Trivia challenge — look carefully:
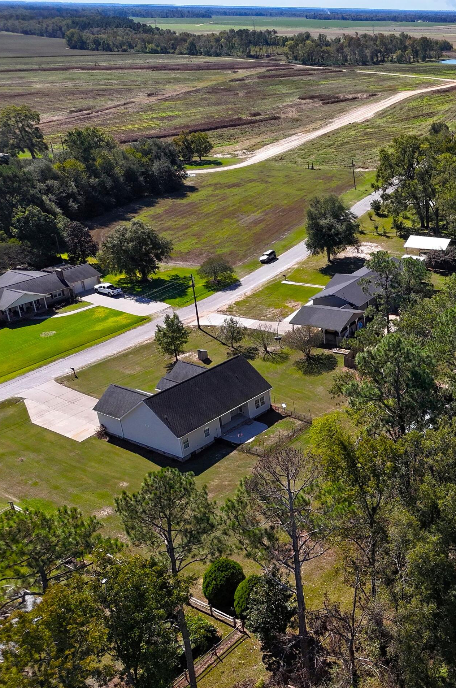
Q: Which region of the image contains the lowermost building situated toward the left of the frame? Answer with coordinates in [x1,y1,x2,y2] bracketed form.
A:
[81,356,272,460]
